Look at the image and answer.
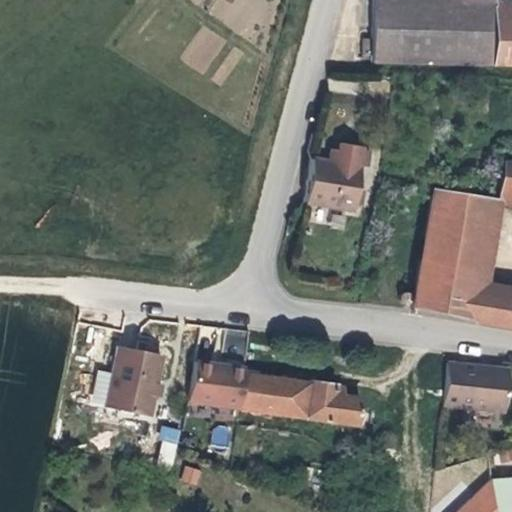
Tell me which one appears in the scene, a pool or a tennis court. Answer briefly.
pool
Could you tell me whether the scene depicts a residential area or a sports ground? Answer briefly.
residential area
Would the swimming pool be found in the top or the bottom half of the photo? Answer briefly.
bottom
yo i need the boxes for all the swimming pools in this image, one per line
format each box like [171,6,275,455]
[208,425,232,459]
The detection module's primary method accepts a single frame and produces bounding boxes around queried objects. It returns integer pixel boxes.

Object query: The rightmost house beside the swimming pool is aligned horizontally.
[238,368,368,429]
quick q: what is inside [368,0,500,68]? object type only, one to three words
barn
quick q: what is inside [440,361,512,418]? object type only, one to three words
house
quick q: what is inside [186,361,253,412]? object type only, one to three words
house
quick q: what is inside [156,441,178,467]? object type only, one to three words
shed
